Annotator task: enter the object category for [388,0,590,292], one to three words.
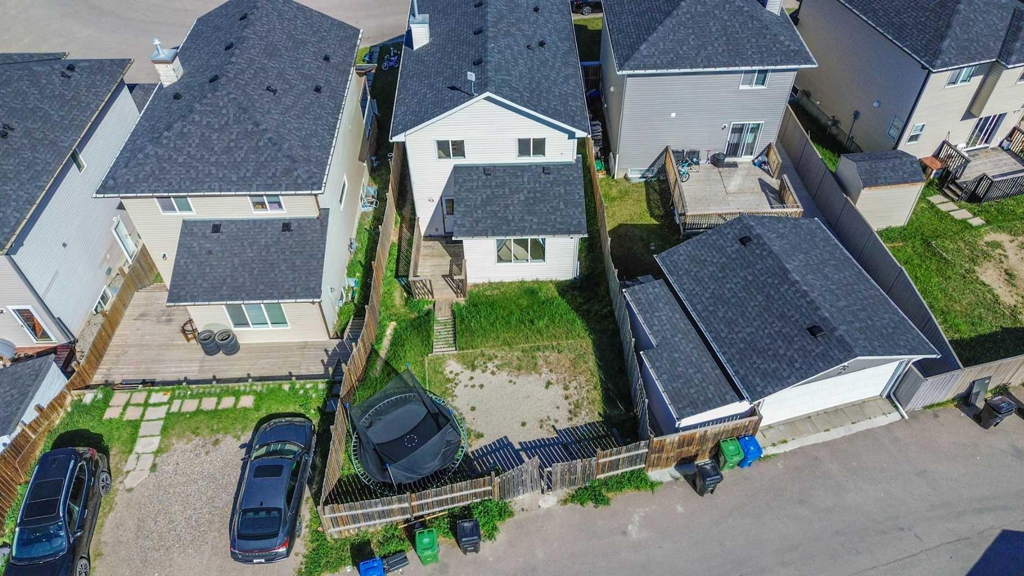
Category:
house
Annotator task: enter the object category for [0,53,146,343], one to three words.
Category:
house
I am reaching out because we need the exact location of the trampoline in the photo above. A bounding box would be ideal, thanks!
[345,366,469,504]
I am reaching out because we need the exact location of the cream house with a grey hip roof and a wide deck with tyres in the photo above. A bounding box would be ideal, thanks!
[91,0,391,347]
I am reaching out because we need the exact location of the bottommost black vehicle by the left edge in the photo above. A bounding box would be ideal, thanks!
[3,447,107,576]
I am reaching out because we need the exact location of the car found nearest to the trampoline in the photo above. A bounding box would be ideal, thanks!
[230,420,316,561]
